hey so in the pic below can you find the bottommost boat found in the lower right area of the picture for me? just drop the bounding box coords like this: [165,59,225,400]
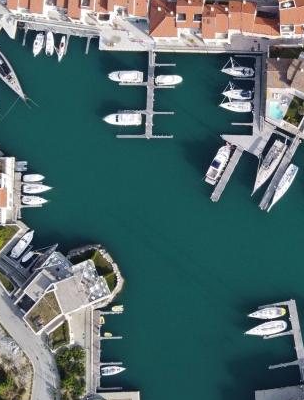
[243,320,288,343]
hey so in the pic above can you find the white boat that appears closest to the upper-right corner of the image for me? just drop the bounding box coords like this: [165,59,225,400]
[219,62,256,77]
